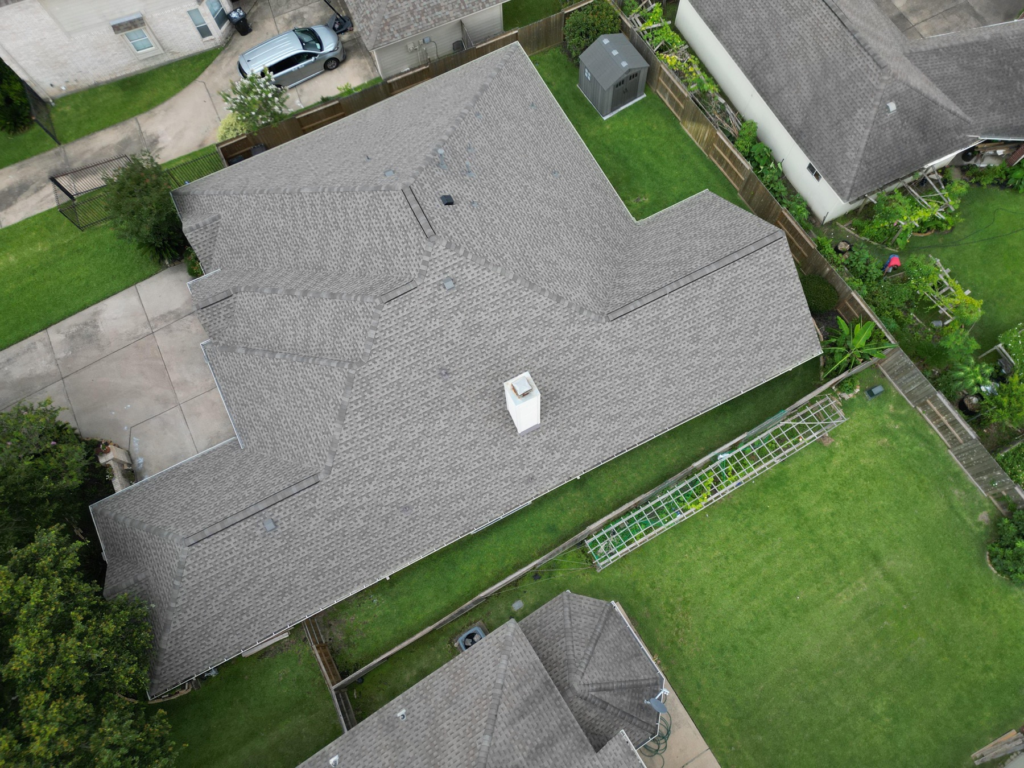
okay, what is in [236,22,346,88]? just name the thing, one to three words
car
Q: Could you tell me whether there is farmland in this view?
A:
No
